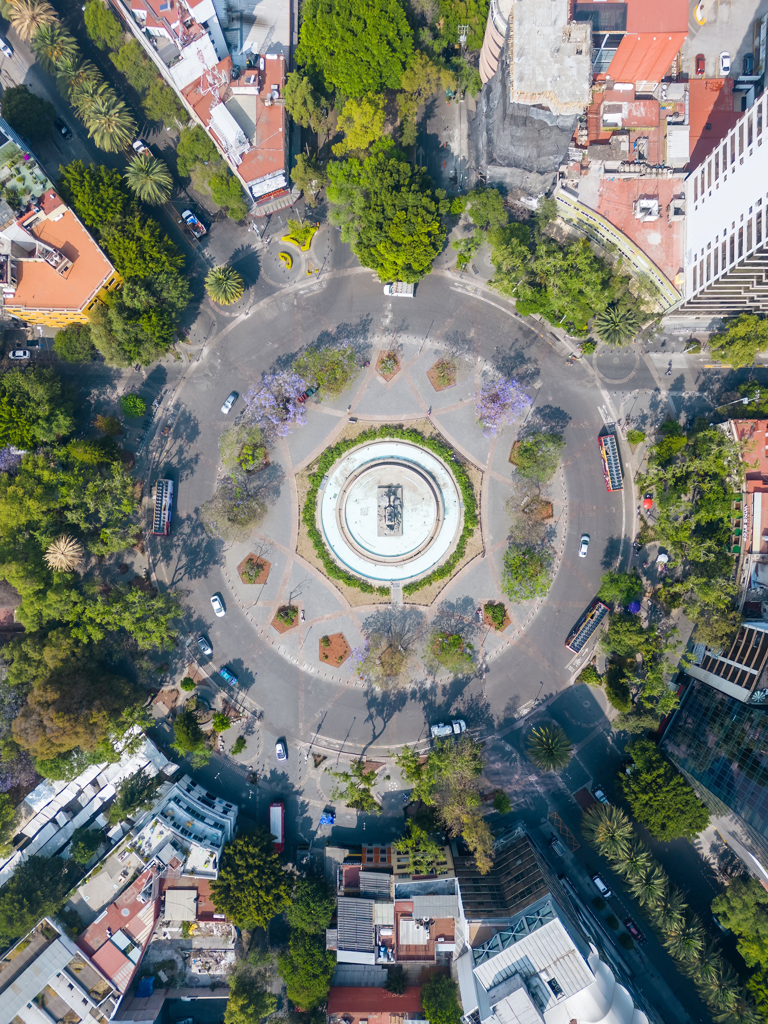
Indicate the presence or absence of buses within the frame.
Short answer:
Yes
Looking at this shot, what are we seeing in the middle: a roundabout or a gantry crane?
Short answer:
roundabout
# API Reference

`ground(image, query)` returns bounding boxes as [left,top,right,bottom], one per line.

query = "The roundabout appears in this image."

[140,263,641,764]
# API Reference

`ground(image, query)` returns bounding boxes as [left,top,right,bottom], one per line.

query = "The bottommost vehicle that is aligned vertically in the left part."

[270,796,286,850]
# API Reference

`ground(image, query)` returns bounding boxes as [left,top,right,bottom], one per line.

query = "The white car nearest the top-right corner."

[718,52,731,76]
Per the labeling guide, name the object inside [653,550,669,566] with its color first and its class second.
white umbrella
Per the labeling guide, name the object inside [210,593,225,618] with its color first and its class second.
white car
